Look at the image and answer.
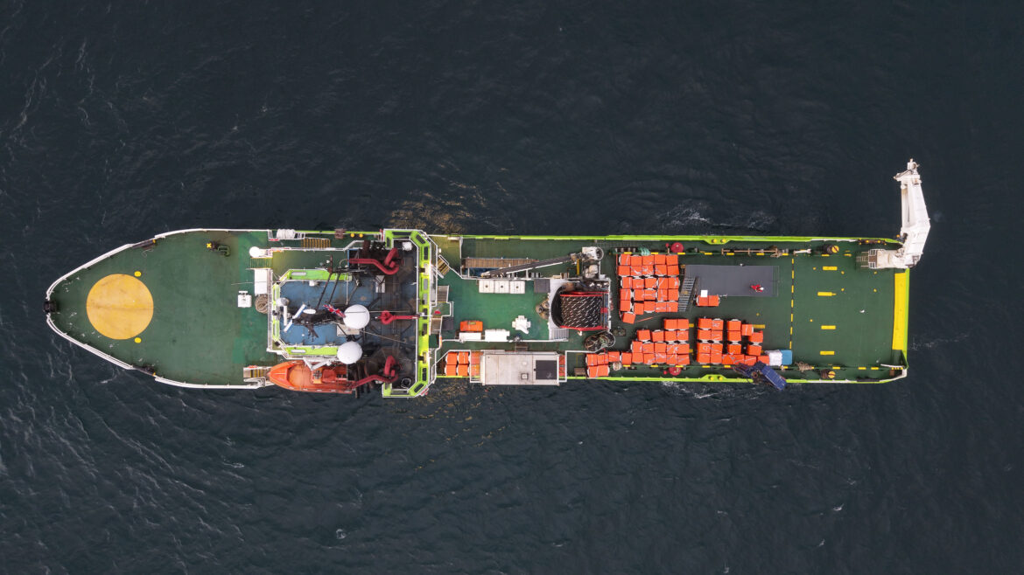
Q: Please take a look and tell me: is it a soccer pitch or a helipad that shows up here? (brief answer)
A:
helipad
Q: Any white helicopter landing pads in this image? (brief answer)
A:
No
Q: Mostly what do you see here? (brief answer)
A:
water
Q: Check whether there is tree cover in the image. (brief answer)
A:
No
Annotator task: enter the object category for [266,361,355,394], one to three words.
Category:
boat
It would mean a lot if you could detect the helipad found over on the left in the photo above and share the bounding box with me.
[87,273,153,339]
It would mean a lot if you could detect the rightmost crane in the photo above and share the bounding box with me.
[856,158,930,269]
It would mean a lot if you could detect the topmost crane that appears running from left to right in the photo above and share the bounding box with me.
[481,247,605,277]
